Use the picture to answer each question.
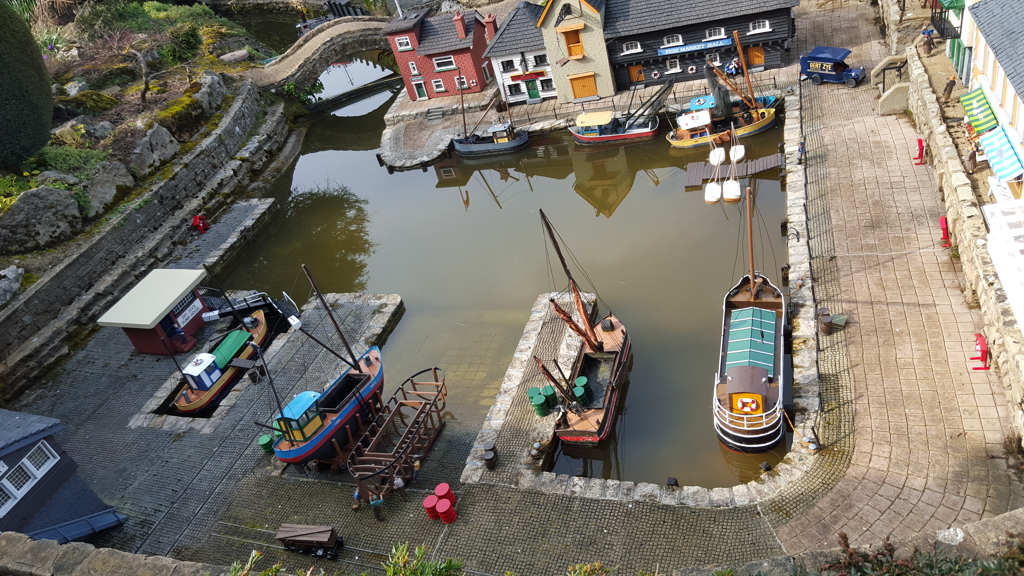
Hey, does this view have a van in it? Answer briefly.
Yes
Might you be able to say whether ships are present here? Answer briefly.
Yes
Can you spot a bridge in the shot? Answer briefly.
Yes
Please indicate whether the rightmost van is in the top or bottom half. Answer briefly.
top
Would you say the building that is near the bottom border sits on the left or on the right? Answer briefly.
left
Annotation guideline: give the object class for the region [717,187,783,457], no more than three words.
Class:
ship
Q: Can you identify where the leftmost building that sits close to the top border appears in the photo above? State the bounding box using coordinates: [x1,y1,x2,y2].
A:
[377,0,499,101]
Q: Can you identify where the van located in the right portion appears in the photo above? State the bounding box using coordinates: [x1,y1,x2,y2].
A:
[799,49,869,86]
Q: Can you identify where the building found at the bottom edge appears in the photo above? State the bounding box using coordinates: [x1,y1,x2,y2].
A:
[0,400,129,576]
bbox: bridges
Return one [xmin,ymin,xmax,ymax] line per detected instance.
[258,6,401,103]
